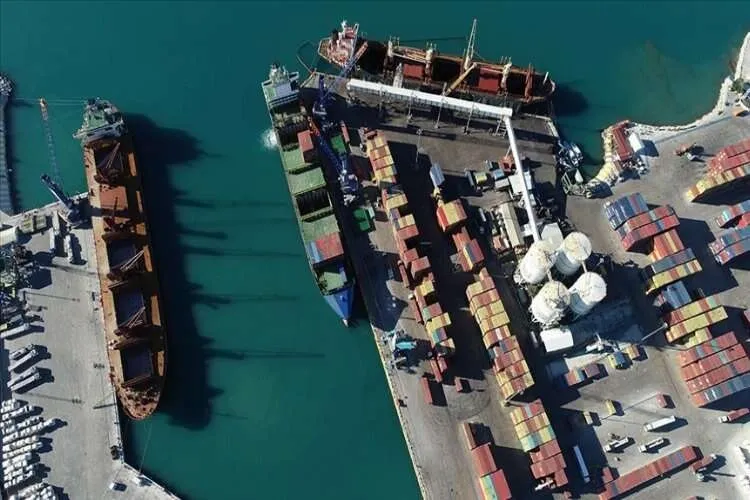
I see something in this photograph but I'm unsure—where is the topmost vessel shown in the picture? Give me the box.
[304,19,557,122]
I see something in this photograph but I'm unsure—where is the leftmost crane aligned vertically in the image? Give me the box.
[39,99,86,226]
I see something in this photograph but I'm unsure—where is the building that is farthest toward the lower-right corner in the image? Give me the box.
[538,327,575,354]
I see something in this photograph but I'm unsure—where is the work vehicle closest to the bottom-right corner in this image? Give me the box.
[686,458,715,489]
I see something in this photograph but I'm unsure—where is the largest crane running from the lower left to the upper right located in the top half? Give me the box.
[305,40,369,131]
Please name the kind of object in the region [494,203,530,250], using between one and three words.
building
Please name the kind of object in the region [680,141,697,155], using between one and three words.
work vehicle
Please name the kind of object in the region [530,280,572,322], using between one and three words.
silo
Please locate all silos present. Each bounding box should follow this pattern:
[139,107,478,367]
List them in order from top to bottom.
[553,232,593,276]
[521,236,562,280]
[567,272,609,315]
[530,280,572,322]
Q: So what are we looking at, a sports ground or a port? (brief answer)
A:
port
